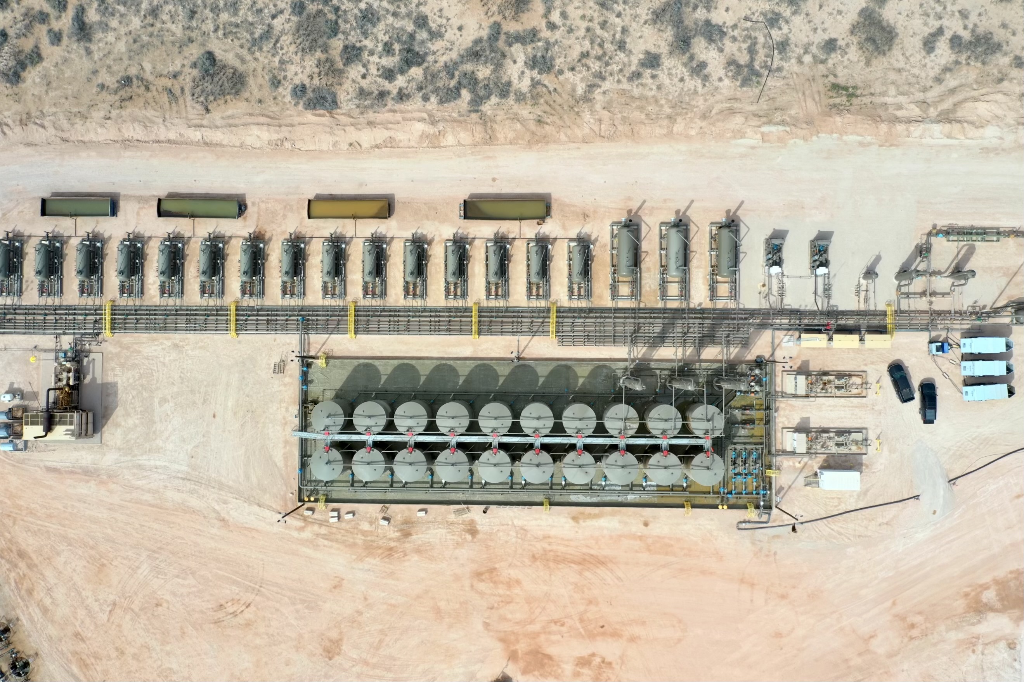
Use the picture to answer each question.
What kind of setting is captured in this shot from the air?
industrial area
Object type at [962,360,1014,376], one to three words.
trailer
